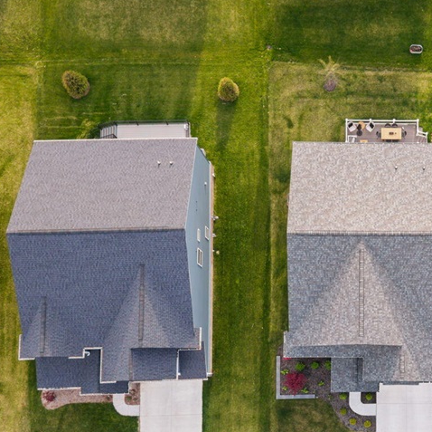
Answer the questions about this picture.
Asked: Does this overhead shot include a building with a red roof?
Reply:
No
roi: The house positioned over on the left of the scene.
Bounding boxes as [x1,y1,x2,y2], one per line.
[2,138,216,395]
